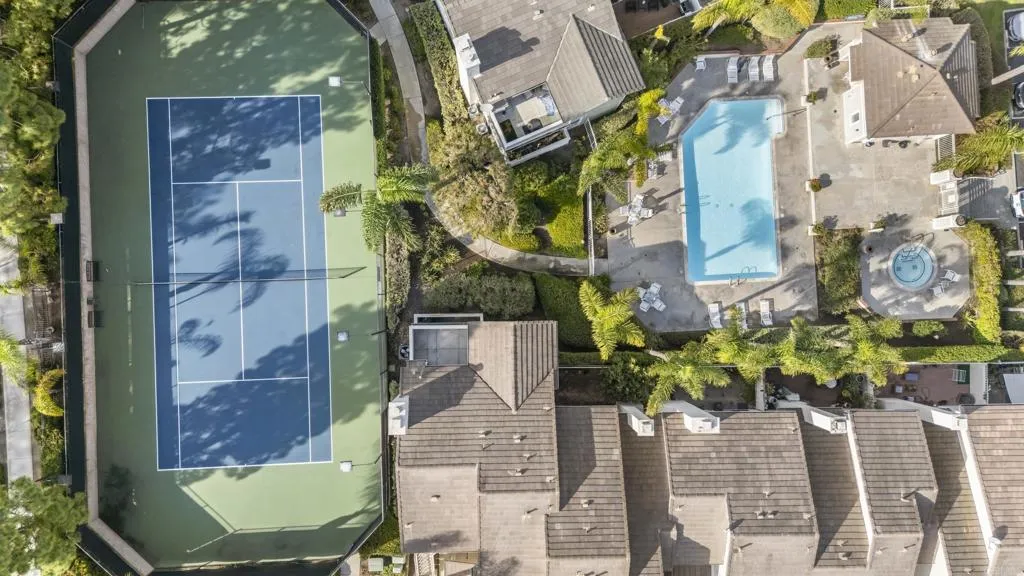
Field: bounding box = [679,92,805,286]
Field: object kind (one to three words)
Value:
swimming pool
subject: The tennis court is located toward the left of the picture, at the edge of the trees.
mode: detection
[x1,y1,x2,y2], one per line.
[86,0,392,571]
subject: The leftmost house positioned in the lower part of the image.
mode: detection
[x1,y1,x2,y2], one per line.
[388,312,559,576]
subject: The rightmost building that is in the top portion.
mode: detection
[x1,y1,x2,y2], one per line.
[833,23,981,146]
